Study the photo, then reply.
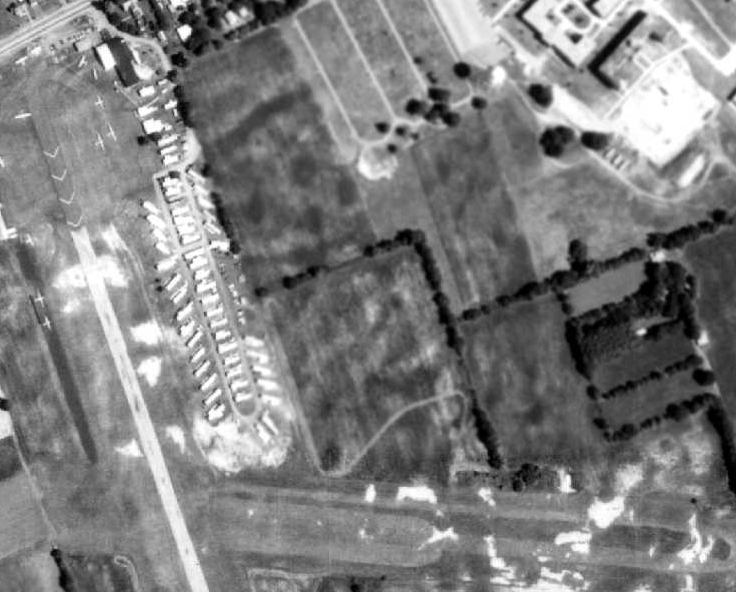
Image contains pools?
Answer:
No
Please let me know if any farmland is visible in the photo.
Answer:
Yes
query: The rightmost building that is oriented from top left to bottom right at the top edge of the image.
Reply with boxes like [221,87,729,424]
[522,0,597,68]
